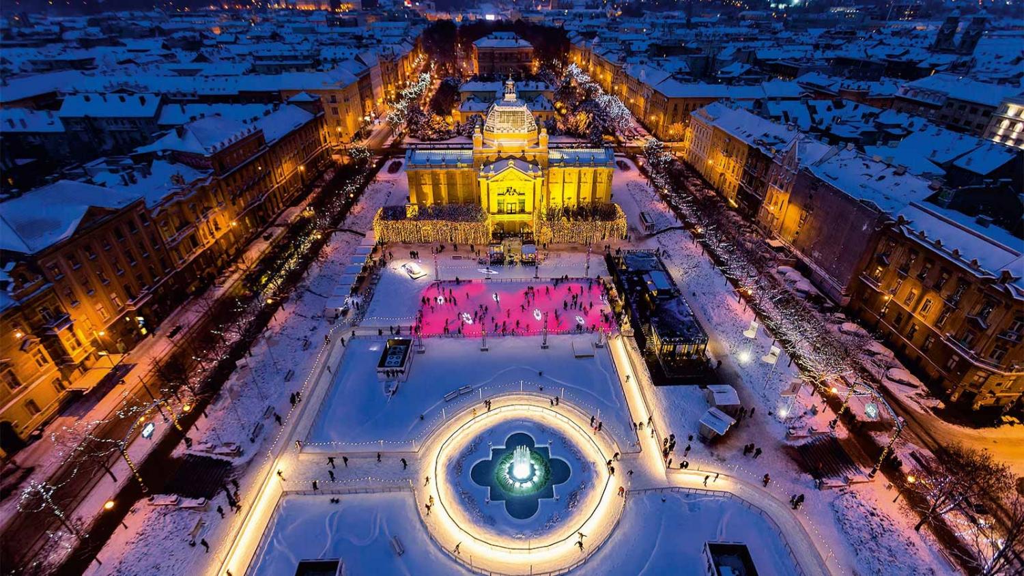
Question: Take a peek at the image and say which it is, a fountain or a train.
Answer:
fountain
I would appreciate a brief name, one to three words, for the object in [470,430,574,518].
fountain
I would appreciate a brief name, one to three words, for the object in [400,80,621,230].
building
